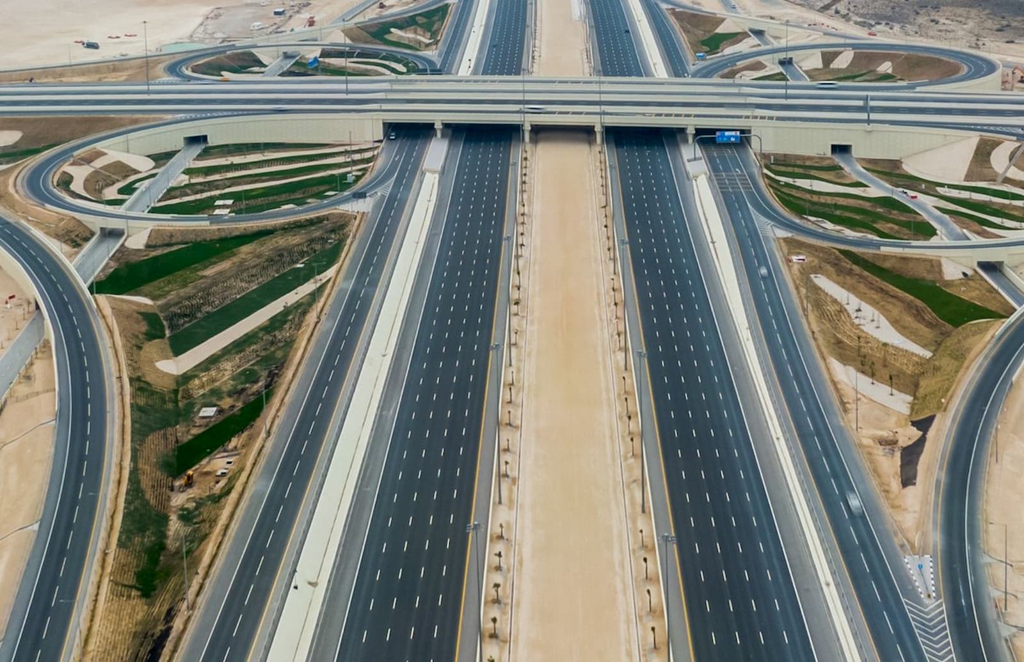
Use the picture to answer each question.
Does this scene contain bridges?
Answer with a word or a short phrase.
Yes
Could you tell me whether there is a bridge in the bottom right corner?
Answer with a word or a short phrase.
No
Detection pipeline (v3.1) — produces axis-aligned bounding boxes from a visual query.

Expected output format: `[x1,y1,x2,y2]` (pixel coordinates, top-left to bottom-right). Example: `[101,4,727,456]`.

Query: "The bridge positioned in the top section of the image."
[383,75,754,152]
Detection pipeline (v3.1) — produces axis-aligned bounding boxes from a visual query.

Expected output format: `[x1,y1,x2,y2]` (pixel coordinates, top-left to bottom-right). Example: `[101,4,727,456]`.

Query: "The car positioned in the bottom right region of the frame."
[848,497,862,510]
